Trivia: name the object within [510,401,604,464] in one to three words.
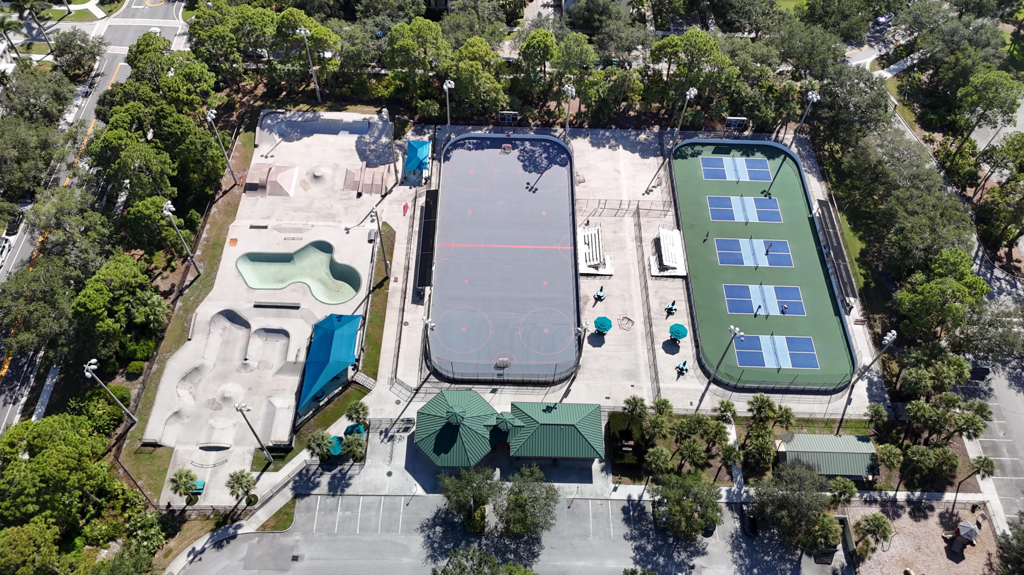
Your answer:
building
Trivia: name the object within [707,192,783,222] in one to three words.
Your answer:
sports court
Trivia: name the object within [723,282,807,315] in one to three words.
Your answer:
sports court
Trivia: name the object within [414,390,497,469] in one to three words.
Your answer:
building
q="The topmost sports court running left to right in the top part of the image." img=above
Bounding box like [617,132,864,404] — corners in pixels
[700,154,773,181]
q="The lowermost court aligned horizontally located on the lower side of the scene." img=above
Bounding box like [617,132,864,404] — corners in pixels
[733,331,820,369]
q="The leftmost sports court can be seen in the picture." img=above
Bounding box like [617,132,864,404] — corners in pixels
[427,132,582,385]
